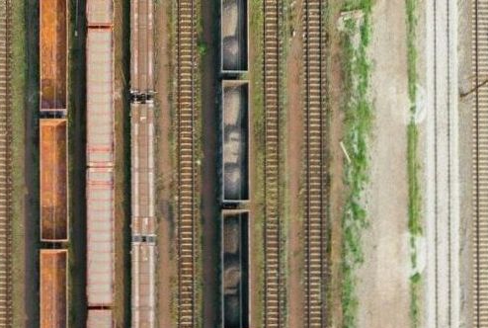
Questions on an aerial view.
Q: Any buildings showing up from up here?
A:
No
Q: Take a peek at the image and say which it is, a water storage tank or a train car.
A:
train car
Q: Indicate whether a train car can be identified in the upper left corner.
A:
Yes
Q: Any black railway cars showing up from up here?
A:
Yes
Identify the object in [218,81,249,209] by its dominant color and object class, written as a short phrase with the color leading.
black rail car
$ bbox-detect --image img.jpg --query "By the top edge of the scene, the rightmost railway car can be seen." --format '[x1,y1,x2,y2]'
[217,0,248,83]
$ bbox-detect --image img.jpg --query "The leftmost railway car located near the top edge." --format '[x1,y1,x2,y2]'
[40,0,67,120]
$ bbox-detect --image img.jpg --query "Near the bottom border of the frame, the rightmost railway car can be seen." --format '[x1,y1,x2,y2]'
[218,209,249,328]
